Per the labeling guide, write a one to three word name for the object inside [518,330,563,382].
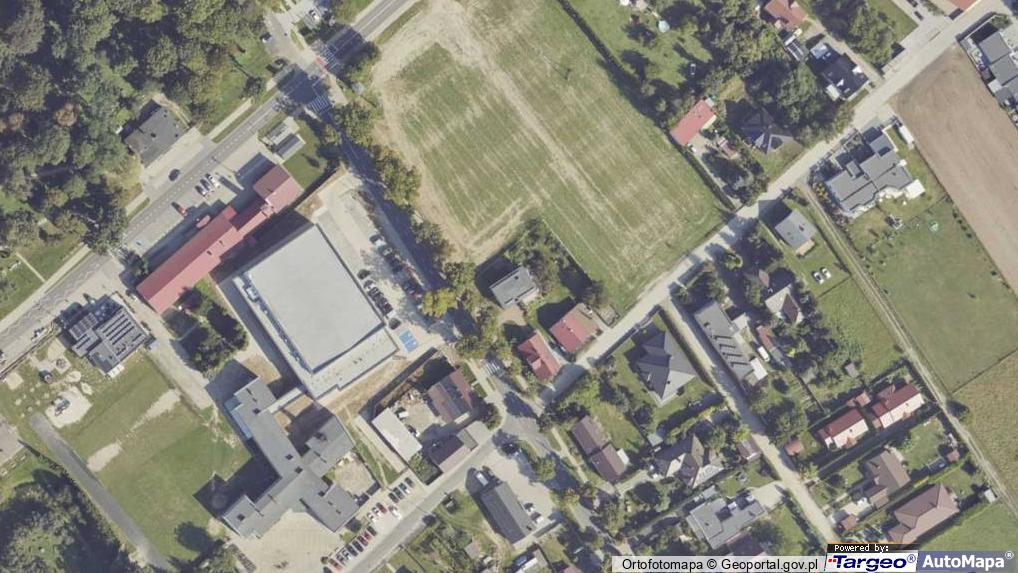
house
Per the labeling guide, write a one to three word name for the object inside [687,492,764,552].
house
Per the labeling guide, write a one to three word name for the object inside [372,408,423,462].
building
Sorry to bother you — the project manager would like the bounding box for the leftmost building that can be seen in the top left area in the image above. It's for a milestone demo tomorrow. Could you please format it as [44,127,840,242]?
[125,107,186,167]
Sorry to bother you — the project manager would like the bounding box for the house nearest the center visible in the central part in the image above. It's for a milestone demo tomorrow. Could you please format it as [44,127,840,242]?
[490,266,539,308]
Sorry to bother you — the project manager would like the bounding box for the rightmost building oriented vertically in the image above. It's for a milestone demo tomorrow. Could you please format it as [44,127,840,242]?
[977,32,1018,108]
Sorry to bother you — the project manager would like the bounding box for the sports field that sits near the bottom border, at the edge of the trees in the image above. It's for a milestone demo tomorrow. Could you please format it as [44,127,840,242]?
[60,350,235,573]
